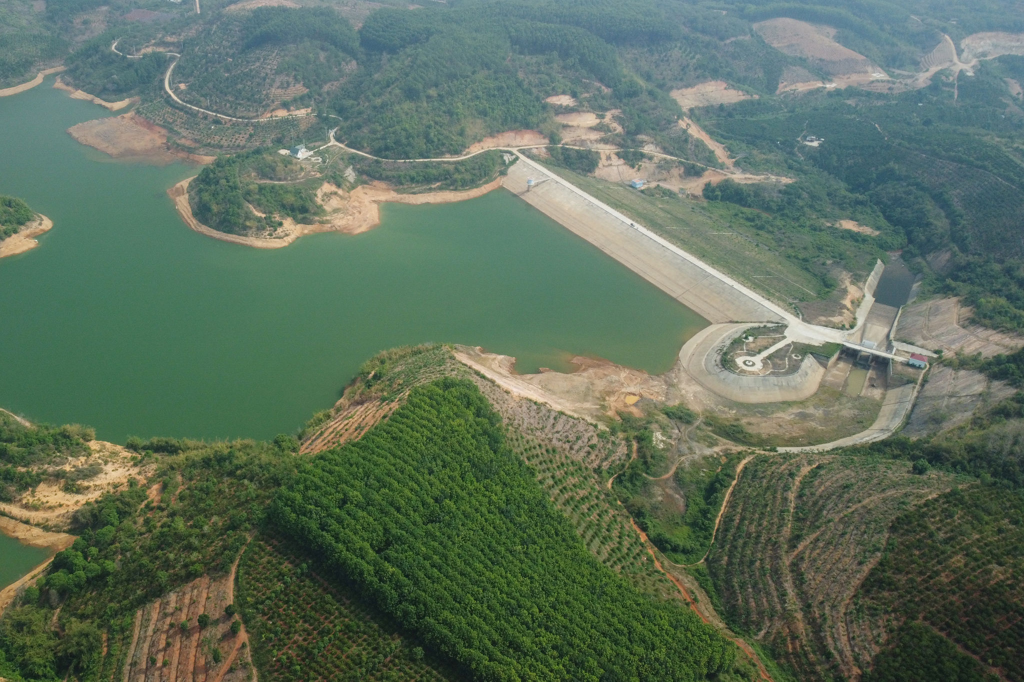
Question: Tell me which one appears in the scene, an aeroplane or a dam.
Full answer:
Looking from above, you can make out a dam.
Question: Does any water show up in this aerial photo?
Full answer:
Yes, water can be seen from above here.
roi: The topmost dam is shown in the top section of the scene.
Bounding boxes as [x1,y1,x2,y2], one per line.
[502,157,816,324]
